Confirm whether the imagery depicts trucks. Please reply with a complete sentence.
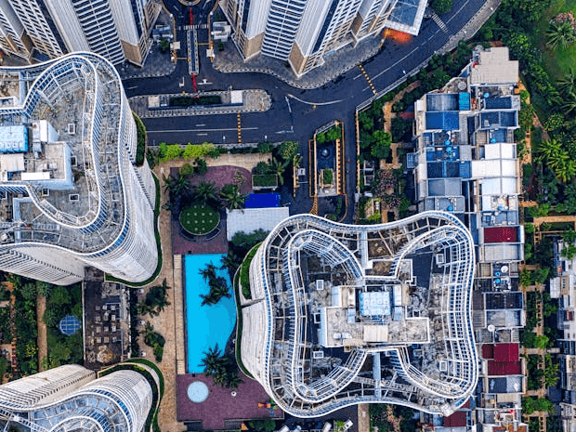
No, the frame has no truck in it.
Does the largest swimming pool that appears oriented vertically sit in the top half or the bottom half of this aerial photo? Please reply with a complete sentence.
The largest swimming pool that appears oriented vertically sits in the bottom half of the picture.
